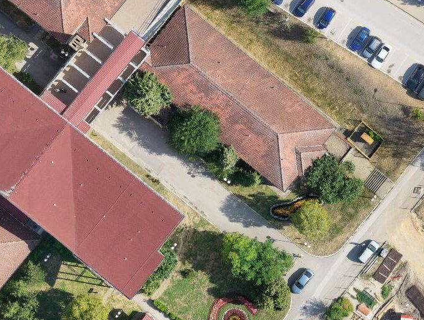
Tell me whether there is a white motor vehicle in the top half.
Yes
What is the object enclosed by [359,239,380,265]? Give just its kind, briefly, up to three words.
vehicle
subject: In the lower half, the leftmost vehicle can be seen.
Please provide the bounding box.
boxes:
[292,267,312,294]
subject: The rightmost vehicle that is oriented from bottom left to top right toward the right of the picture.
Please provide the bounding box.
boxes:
[402,63,424,91]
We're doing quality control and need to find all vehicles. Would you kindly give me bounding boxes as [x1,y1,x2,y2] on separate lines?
[348,26,370,51]
[318,6,336,29]
[359,239,380,265]
[402,63,424,91]
[293,0,312,18]
[359,35,382,60]
[292,267,312,294]
[369,44,392,69]
[271,0,284,6]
